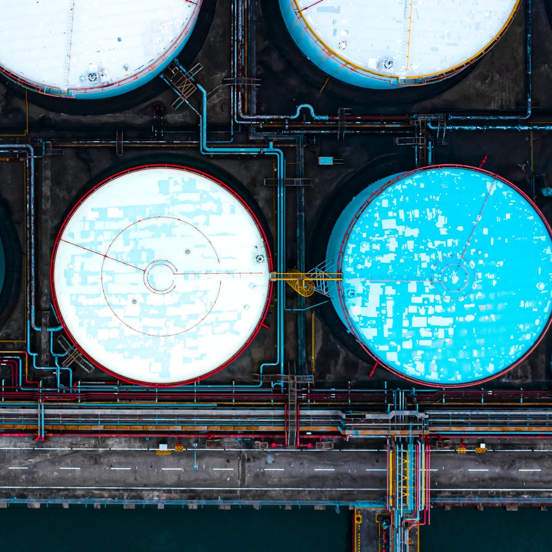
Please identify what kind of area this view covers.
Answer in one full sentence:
What you see here is an industrial area.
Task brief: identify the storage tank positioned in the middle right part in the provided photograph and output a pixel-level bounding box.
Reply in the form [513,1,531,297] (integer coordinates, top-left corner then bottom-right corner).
[305,151,552,390]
